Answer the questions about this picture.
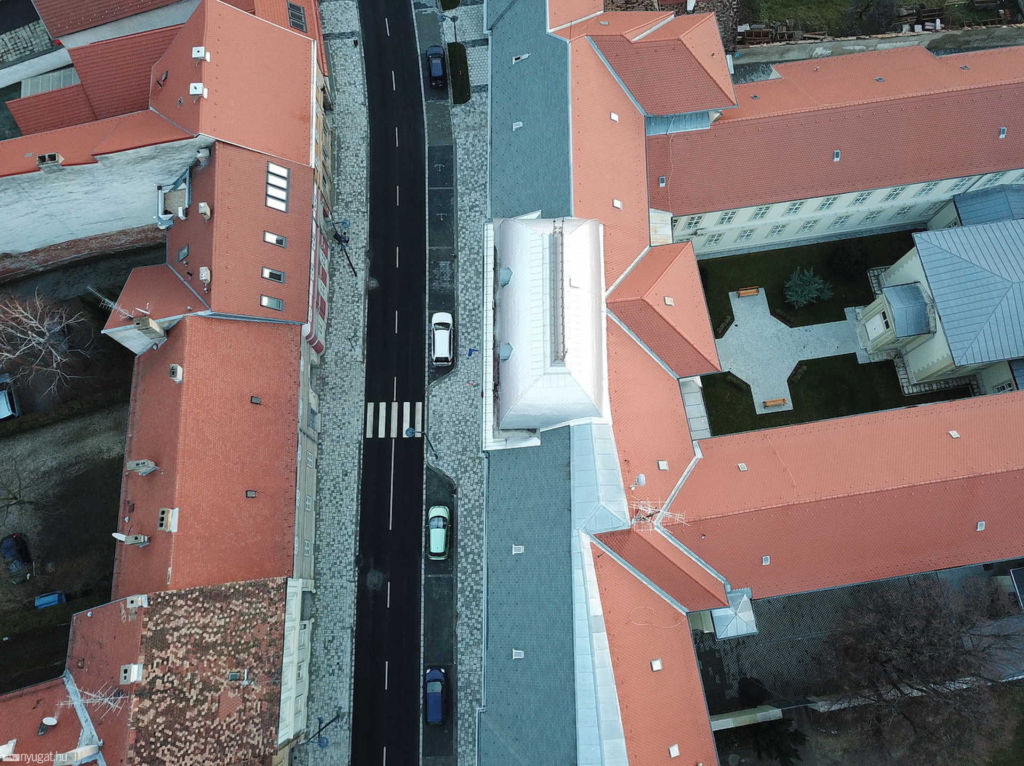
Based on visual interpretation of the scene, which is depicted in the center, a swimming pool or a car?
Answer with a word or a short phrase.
car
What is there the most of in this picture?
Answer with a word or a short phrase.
buildings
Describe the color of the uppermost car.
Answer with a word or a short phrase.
blue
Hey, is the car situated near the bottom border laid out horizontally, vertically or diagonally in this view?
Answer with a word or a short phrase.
vertically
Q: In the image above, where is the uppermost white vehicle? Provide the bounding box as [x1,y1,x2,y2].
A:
[429,316,454,368]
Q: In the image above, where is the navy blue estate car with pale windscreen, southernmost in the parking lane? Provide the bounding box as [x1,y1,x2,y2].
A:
[421,666,449,728]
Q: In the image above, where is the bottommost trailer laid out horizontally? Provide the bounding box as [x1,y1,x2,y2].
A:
[28,590,75,612]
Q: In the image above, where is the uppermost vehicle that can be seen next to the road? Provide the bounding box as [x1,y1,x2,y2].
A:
[424,47,447,88]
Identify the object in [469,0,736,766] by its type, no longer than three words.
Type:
building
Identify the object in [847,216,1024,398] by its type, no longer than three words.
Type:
building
